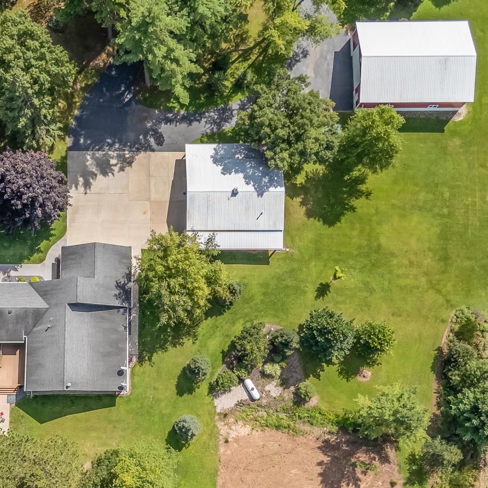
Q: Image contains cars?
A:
No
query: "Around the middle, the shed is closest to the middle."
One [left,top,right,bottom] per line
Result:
[184,145,284,253]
